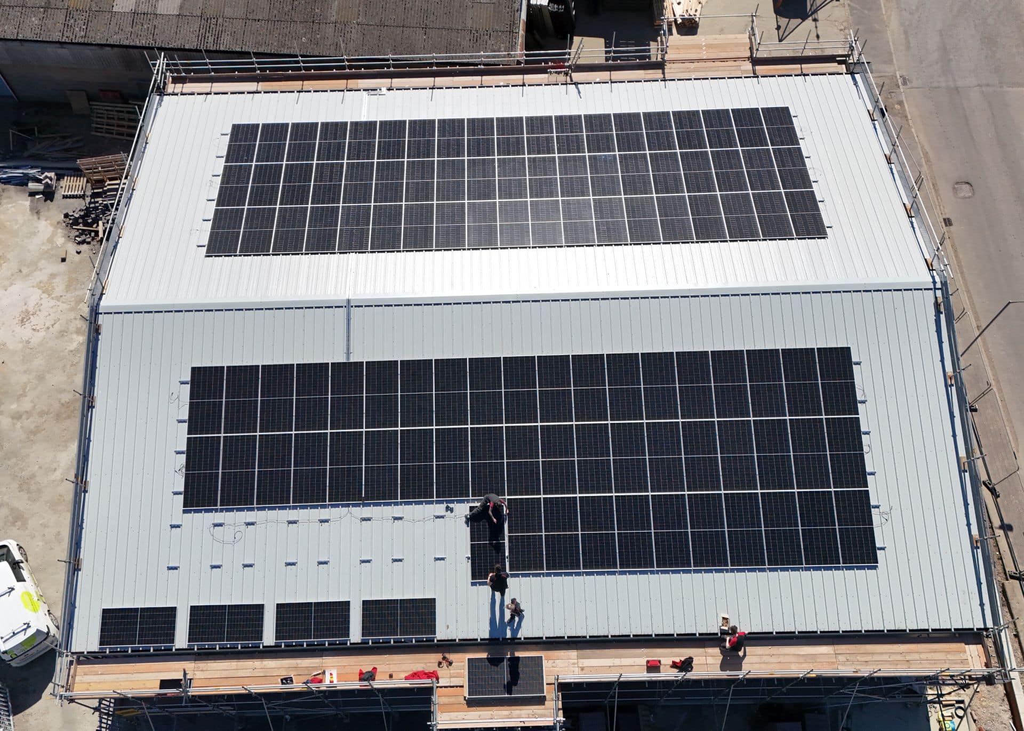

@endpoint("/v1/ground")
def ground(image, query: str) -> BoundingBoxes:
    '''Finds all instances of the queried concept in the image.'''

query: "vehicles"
[0,535,59,672]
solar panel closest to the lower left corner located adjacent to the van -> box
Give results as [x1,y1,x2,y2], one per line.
[99,607,177,647]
